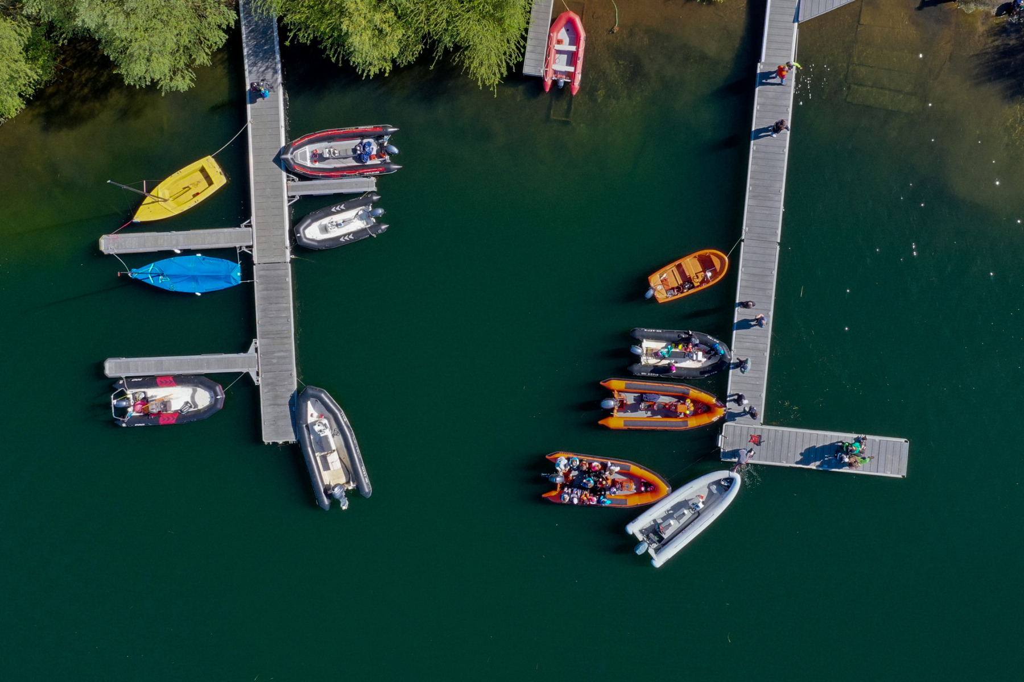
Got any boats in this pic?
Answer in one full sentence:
Yes, I can see a boat in this picture.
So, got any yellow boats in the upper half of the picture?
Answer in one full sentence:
Yes, the scene does show a yellow boat in the upper half of the picture.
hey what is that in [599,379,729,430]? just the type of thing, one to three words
boat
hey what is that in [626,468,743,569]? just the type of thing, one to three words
boat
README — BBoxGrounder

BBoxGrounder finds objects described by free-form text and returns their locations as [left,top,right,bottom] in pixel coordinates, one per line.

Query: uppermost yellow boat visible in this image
[106,156,227,224]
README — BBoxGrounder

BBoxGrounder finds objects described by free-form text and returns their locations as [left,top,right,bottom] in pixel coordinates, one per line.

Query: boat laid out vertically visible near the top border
[544,9,586,97]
